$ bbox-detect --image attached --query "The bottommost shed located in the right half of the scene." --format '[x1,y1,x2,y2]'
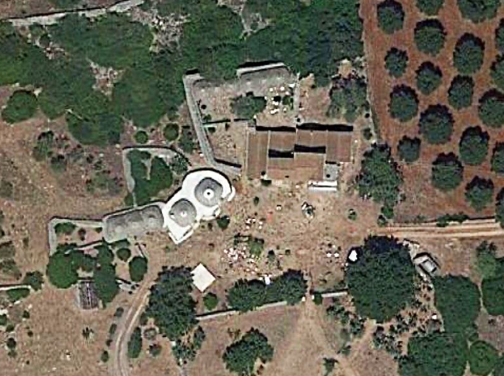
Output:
[414,256,439,281]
